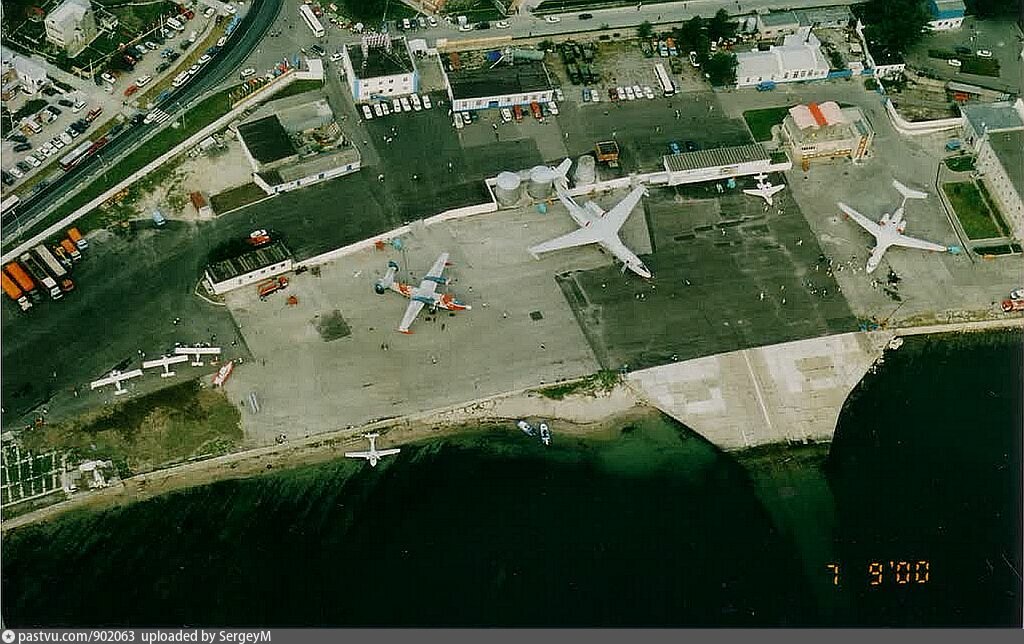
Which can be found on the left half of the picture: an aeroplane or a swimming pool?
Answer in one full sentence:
The one visible on the left half of the picture is an aeroplane.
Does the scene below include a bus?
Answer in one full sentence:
Yes, looking at the shot, I can spot a bus.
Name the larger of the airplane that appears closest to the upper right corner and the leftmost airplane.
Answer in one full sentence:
Of the two, the airplane that appears closest to the upper right corner is larger and the leftmost airplane is the smaller one.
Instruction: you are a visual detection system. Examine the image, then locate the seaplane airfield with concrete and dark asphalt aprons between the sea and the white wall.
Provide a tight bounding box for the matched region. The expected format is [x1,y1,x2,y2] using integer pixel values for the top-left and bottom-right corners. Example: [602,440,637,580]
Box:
[0,47,1024,444]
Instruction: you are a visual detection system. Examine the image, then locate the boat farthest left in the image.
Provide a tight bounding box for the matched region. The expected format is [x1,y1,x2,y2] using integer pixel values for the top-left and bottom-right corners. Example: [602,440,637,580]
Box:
[213,360,231,386]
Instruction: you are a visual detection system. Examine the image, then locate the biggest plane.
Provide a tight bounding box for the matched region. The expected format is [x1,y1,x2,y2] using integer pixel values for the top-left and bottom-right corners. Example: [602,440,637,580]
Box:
[528,155,653,282]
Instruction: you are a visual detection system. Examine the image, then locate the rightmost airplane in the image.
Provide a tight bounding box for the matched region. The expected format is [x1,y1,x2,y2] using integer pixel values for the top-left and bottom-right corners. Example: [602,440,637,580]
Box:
[838,178,946,272]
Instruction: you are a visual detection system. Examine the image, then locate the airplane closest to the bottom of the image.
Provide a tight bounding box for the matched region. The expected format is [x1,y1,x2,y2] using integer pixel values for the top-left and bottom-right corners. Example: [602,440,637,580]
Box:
[345,434,400,470]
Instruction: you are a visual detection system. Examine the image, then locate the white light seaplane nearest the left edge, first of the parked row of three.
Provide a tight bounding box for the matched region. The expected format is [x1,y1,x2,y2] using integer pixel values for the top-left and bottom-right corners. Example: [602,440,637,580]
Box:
[91,368,140,393]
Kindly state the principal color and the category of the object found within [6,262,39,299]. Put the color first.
orange truck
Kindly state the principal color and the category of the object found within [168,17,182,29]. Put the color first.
white vehicle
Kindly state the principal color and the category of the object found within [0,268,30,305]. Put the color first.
orange truck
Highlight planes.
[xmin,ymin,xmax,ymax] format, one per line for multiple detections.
[345,434,400,470]
[373,251,471,333]
[838,178,946,272]
[743,169,784,204]
[91,368,140,393]
[142,353,188,377]
[528,155,653,282]
[174,342,221,365]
